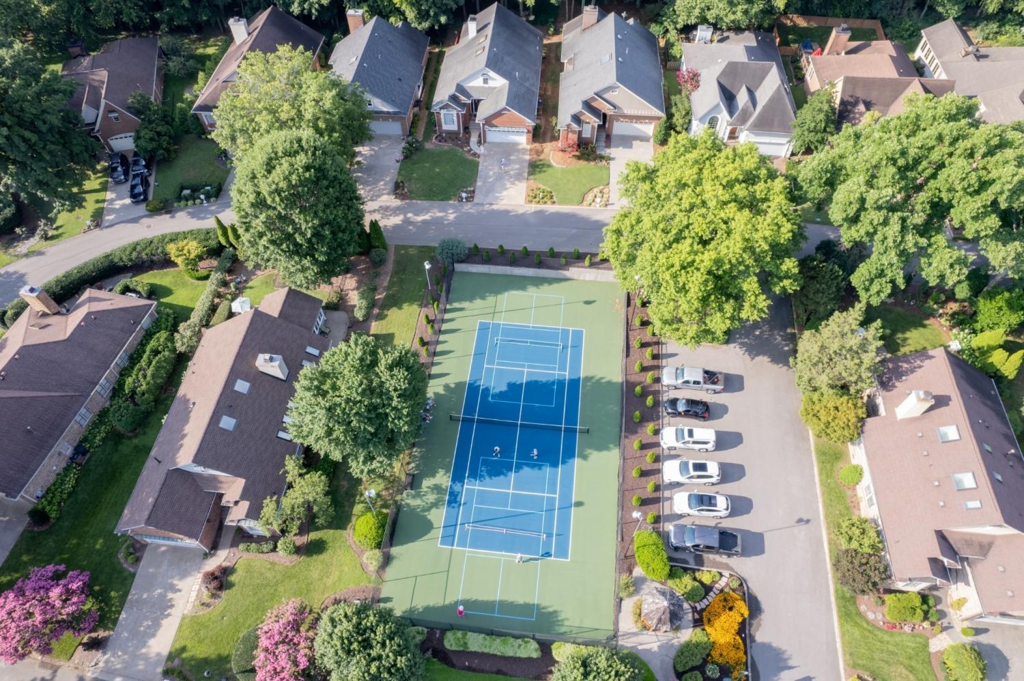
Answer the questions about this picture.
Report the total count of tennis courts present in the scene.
1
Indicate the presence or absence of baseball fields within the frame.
No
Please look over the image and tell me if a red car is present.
No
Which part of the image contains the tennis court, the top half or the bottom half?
bottom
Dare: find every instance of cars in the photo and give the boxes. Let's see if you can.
[662,459,721,489]
[672,491,731,523]
[127,152,150,179]
[107,153,130,186]
[659,426,717,456]
[128,173,150,204]
[664,397,709,423]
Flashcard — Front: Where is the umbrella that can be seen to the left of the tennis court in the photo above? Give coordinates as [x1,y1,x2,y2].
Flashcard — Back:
[230,296,257,316]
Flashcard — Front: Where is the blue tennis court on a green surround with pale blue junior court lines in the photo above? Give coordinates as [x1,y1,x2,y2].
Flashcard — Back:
[383,269,624,642]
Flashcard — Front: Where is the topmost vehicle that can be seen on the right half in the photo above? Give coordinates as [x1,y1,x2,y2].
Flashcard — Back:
[662,368,725,396]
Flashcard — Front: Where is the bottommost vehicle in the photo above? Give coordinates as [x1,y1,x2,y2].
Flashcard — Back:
[668,525,745,561]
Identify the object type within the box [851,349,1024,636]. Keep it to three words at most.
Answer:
house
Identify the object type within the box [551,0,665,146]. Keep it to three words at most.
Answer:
house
